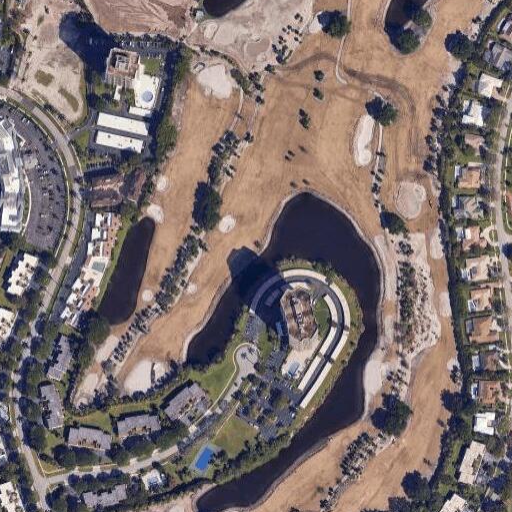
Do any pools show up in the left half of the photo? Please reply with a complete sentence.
Yes, in the left half of the photo there is a pool.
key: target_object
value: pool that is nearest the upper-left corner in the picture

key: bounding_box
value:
[141,91,153,104]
